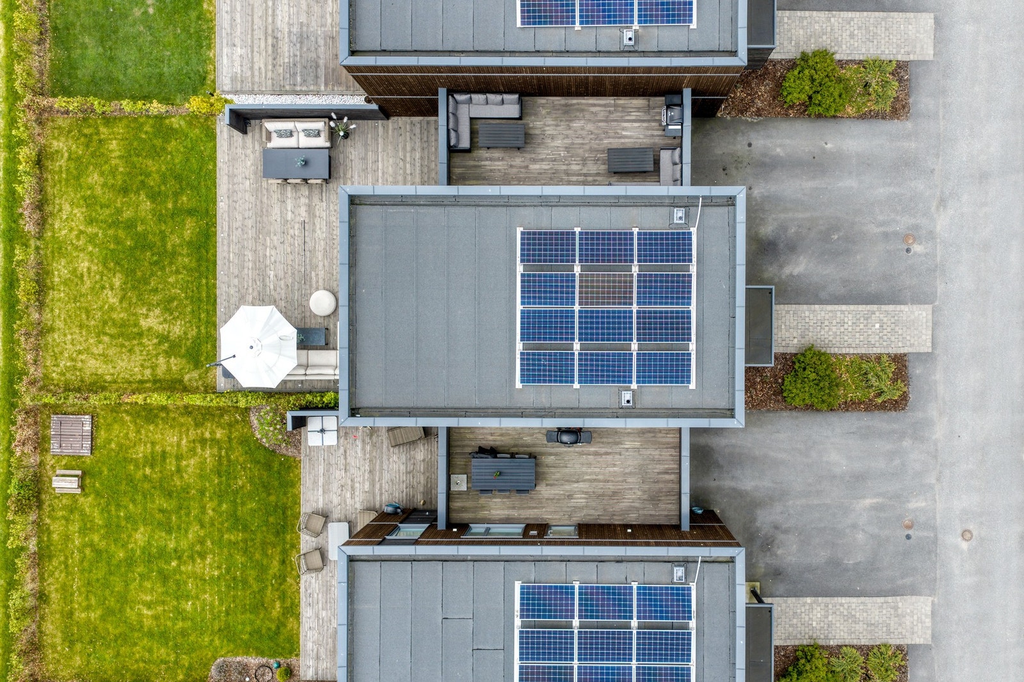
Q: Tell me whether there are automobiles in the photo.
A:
No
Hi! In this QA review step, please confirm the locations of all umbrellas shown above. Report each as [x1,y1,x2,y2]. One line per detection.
[207,305,297,388]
